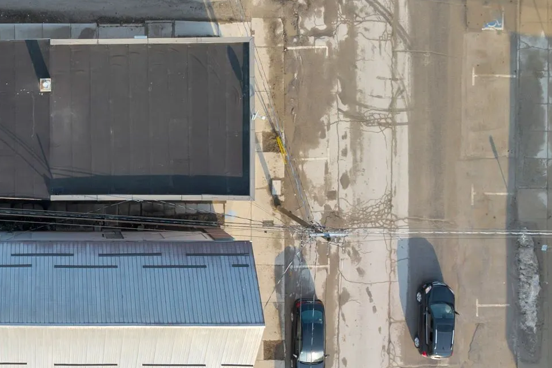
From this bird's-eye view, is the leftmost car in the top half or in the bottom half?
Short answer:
bottom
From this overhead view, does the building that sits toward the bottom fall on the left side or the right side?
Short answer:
left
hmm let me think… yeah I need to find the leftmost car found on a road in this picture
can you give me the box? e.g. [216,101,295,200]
[289,296,334,368]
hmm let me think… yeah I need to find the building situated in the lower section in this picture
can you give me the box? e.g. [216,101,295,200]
[0,229,263,368]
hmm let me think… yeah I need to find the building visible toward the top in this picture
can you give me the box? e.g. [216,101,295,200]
[0,38,254,200]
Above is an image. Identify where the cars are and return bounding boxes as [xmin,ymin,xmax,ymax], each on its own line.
[289,296,334,368]
[411,278,462,360]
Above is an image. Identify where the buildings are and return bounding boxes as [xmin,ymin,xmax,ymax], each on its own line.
[0,38,254,200]
[0,229,263,368]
